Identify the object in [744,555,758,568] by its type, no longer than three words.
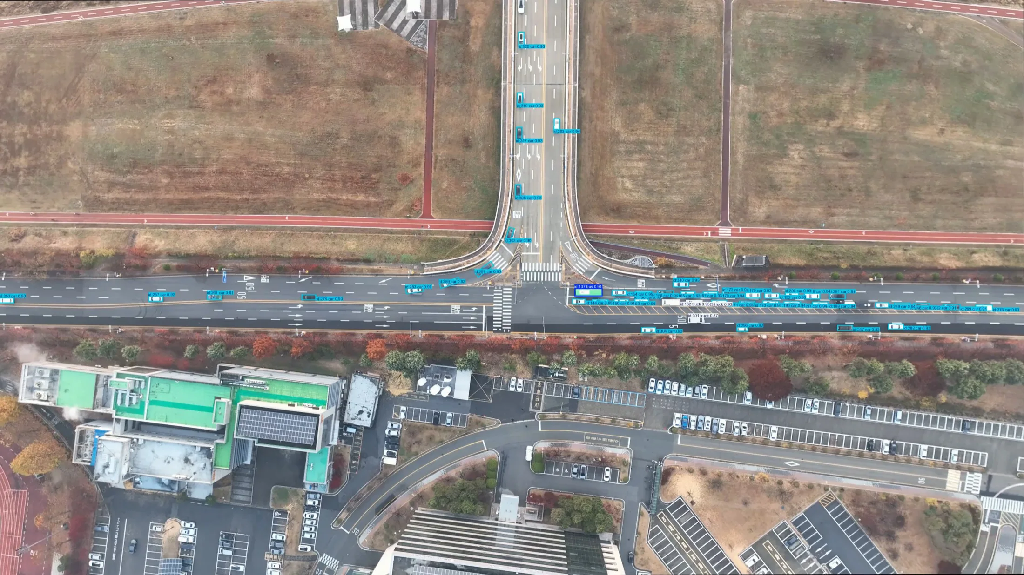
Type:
vehicle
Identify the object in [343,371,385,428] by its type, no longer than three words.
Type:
building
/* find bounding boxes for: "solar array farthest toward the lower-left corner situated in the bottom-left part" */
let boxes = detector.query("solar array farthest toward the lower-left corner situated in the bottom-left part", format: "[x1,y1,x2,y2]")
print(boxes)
[237,409,317,444]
